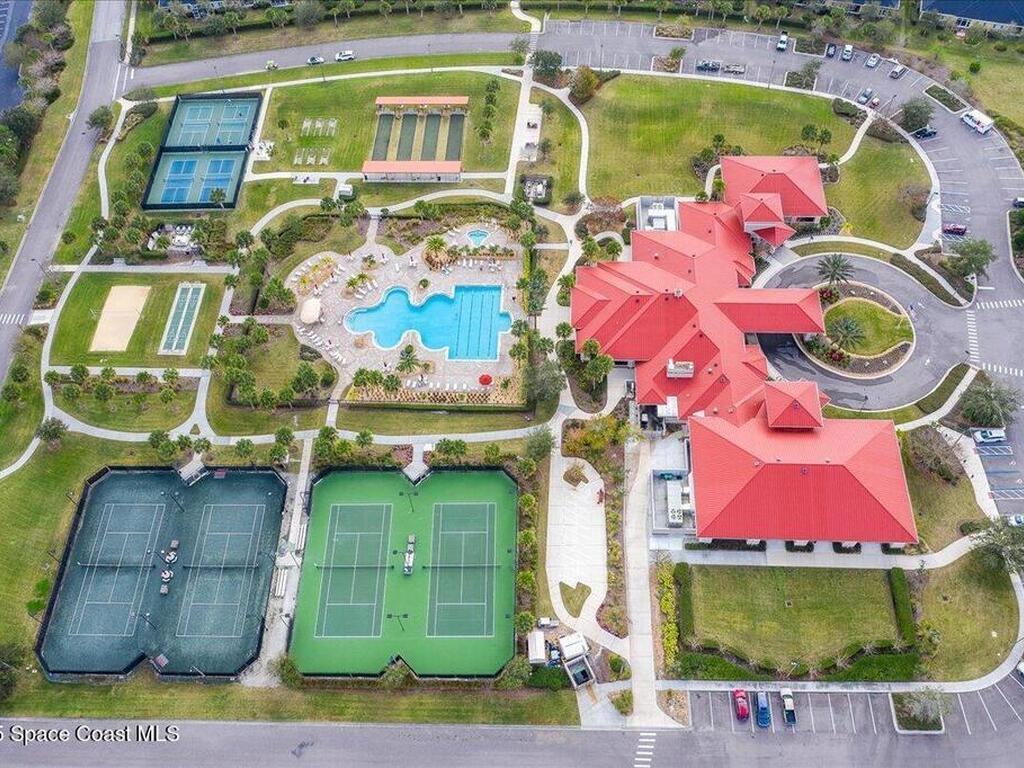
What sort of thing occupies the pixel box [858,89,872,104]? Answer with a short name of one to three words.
car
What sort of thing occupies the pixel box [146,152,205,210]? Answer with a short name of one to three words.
sports court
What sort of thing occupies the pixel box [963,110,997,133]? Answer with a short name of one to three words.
truck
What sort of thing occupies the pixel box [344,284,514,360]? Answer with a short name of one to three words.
swimming pool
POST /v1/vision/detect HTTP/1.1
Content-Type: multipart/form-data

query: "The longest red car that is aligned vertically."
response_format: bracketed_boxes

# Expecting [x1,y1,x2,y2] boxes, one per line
[733,689,749,721]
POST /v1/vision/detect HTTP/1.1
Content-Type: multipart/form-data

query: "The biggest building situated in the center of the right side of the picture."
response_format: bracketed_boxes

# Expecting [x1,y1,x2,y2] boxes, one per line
[571,156,919,548]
